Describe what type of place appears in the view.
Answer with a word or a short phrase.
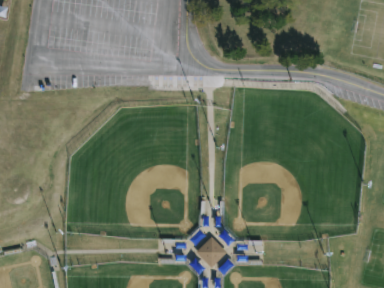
sports ground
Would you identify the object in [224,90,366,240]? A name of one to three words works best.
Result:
baseball field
